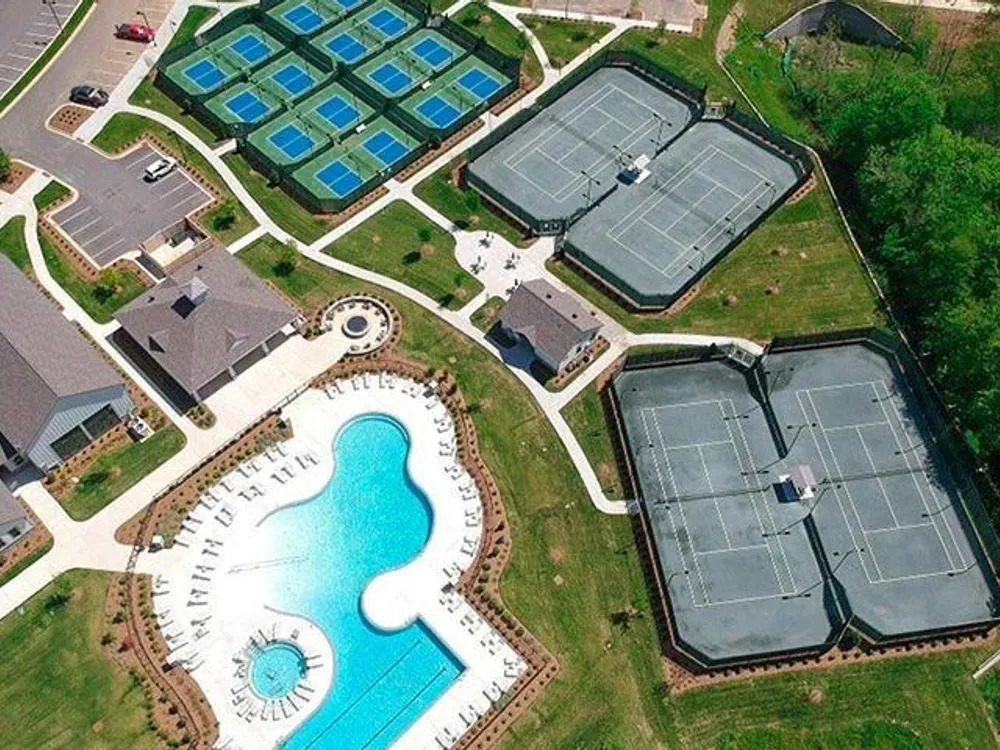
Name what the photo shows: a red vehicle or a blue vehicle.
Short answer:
red vehicle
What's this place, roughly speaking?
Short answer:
sports ground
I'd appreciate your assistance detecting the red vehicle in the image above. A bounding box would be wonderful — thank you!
[116,23,153,41]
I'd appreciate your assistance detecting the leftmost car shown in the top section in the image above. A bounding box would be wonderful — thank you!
[70,87,105,105]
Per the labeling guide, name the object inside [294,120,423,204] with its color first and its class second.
green sports court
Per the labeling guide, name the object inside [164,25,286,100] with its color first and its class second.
green sports court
